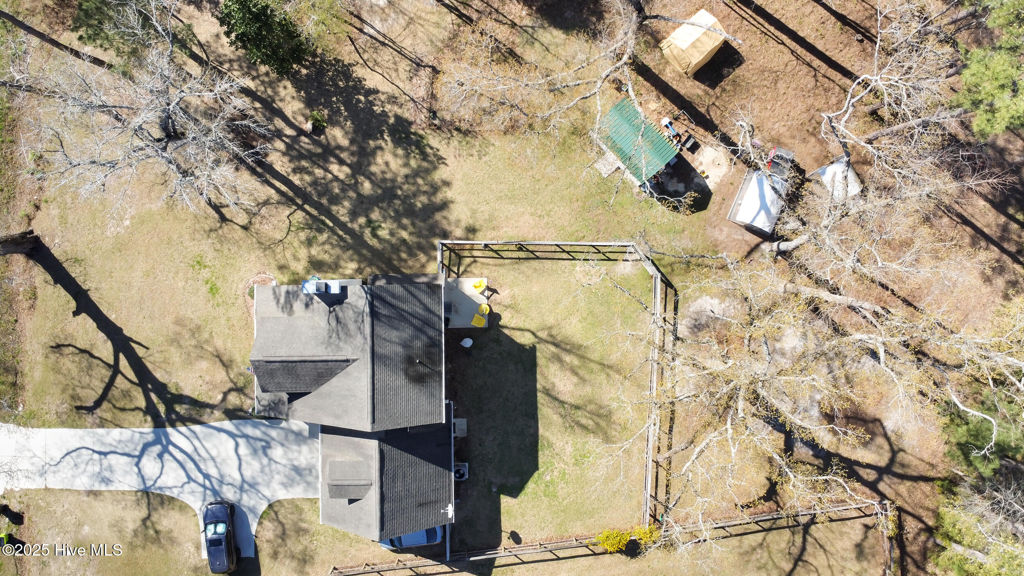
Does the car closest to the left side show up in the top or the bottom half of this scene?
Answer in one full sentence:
You can find the car closest to the left side in the bottom half.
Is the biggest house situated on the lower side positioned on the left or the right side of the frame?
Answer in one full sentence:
The biggest house situated on the lower side appears in the left half of the scene.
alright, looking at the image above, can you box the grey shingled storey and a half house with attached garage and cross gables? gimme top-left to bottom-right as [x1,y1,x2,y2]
[247,273,460,542]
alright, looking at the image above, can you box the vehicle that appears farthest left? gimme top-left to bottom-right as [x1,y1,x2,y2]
[198,498,242,576]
